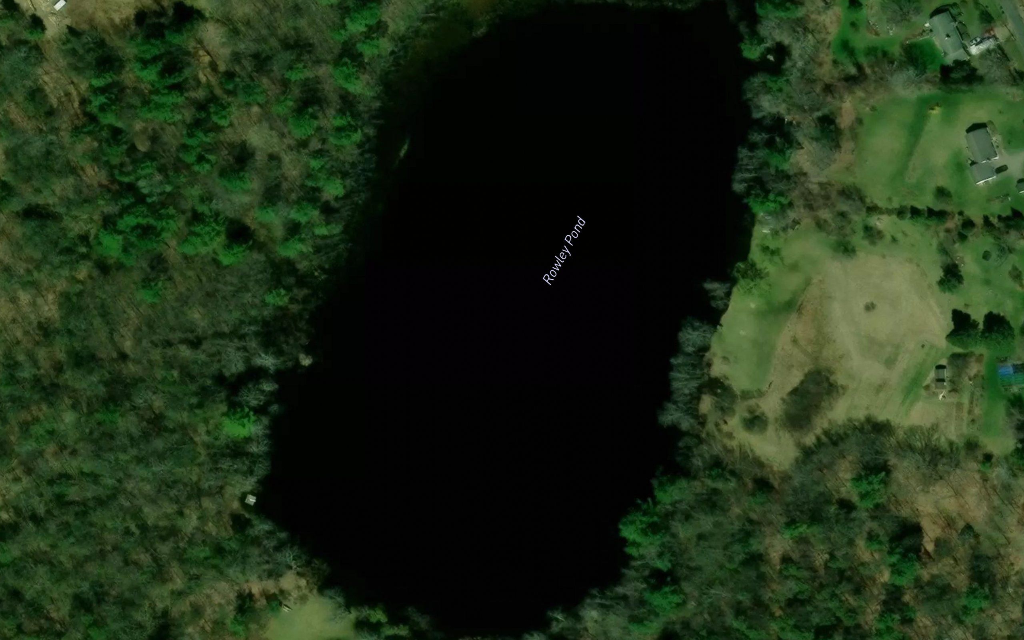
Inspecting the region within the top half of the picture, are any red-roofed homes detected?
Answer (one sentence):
No, there's no red-roofed home to be seen within the top half of the picture.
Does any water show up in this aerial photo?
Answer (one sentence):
Yes, there's water in this view.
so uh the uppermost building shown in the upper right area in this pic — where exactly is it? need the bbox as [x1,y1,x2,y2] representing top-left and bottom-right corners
[928,8,970,61]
